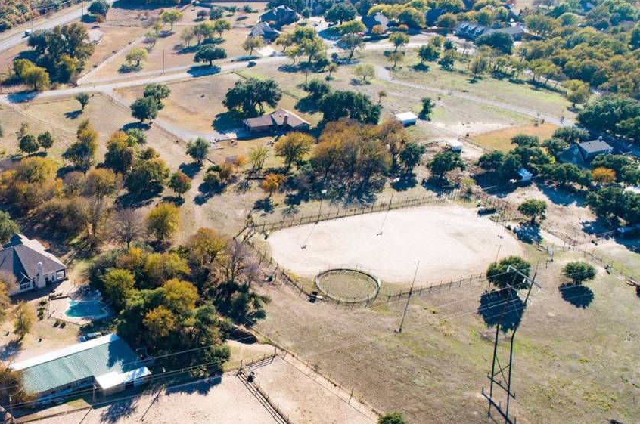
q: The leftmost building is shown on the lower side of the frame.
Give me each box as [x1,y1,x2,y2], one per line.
[0,233,66,294]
